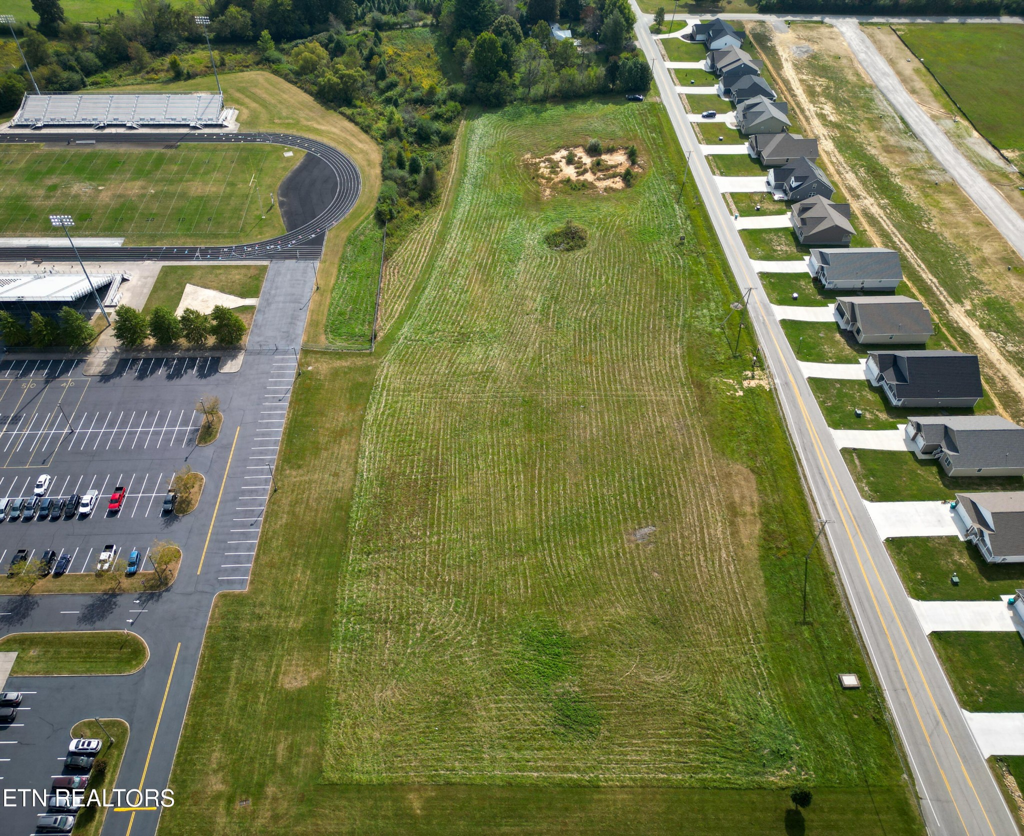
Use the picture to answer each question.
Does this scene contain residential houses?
Yes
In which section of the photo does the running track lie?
top left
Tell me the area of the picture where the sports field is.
top left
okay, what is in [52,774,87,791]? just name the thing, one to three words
car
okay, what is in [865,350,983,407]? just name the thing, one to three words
house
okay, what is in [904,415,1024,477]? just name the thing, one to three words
house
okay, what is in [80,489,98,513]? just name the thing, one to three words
vehicle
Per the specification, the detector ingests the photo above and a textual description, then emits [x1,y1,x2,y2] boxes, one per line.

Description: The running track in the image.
[0,133,360,261]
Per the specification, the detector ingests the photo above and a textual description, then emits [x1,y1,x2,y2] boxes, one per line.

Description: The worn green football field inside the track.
[0,143,306,248]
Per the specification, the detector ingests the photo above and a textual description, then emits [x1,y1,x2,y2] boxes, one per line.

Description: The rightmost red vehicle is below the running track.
[108,487,125,511]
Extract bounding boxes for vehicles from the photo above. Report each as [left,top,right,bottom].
[80,489,98,513]
[0,691,23,706]
[702,110,716,117]
[32,475,48,495]
[39,550,57,573]
[69,738,102,754]
[22,495,40,516]
[63,754,96,769]
[54,553,71,576]
[0,497,13,519]
[108,487,125,511]
[0,707,18,722]
[52,774,87,791]
[37,814,73,832]
[7,497,26,519]
[50,499,66,517]
[96,545,115,572]
[161,489,177,513]
[38,498,53,517]
[124,551,140,573]
[64,494,80,514]
[47,794,82,811]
